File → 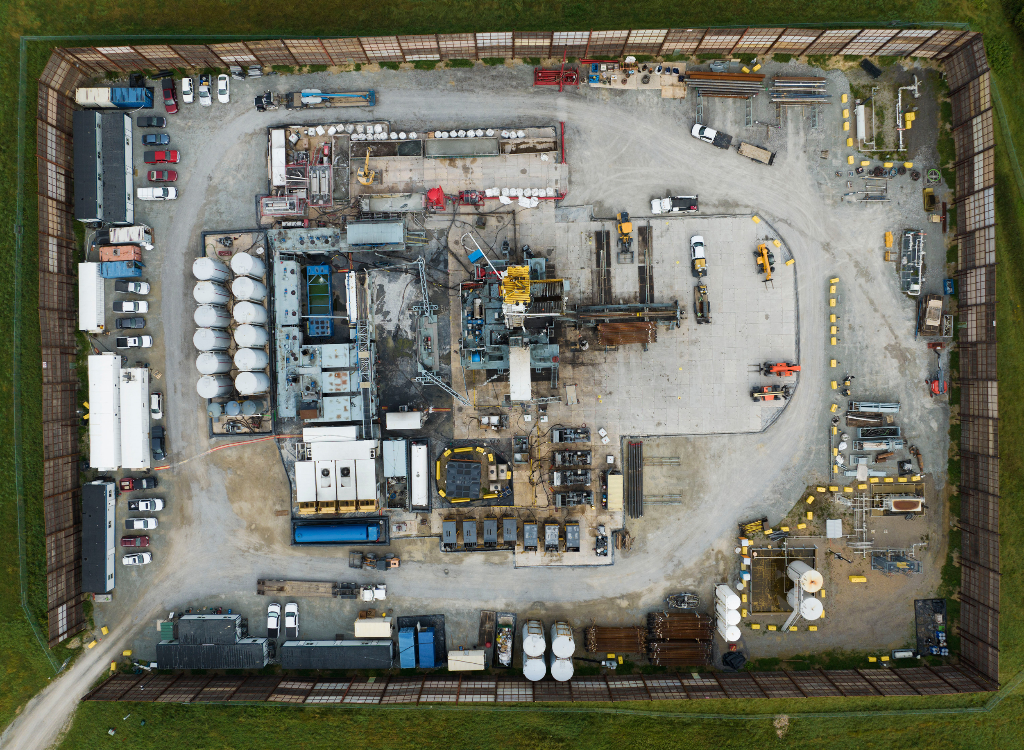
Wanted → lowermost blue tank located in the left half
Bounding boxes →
[295,522,381,542]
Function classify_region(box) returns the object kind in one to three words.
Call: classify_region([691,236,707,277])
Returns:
vehicle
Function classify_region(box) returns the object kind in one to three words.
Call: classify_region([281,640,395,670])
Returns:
trailer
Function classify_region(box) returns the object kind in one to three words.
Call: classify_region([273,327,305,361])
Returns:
storage tank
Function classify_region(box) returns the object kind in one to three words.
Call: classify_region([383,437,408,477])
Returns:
house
